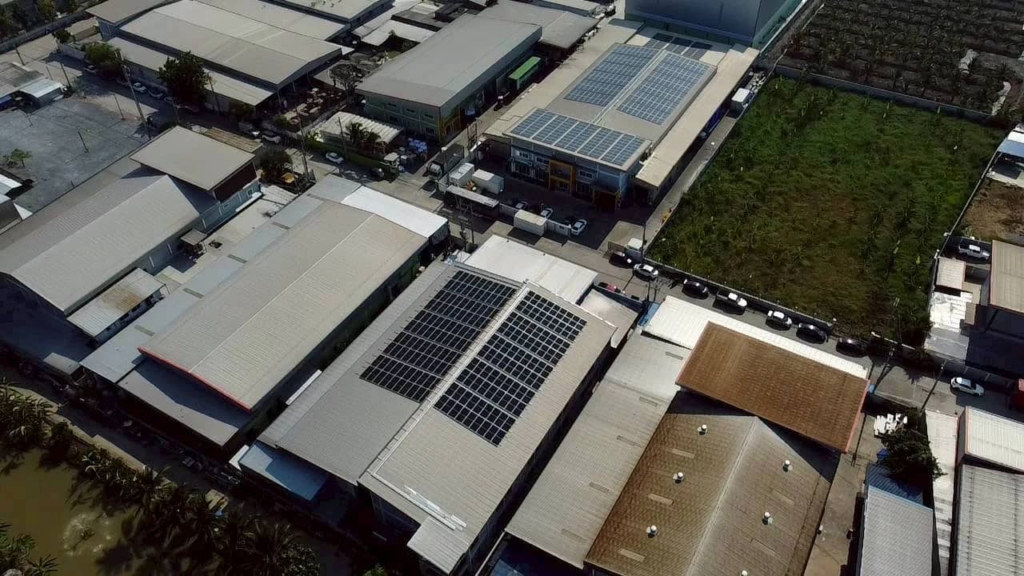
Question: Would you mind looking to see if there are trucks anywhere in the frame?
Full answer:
Yes, the image includes a truck.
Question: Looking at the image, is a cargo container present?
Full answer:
Yes, you can see a cargo container in this photo.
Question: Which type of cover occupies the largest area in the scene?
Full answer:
For the most part, this view shows buildings.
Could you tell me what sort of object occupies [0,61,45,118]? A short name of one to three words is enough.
shed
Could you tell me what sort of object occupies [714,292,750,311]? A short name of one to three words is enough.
vehicle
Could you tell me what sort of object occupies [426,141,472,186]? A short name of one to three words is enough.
truck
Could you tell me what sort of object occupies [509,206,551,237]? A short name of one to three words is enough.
shipping container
